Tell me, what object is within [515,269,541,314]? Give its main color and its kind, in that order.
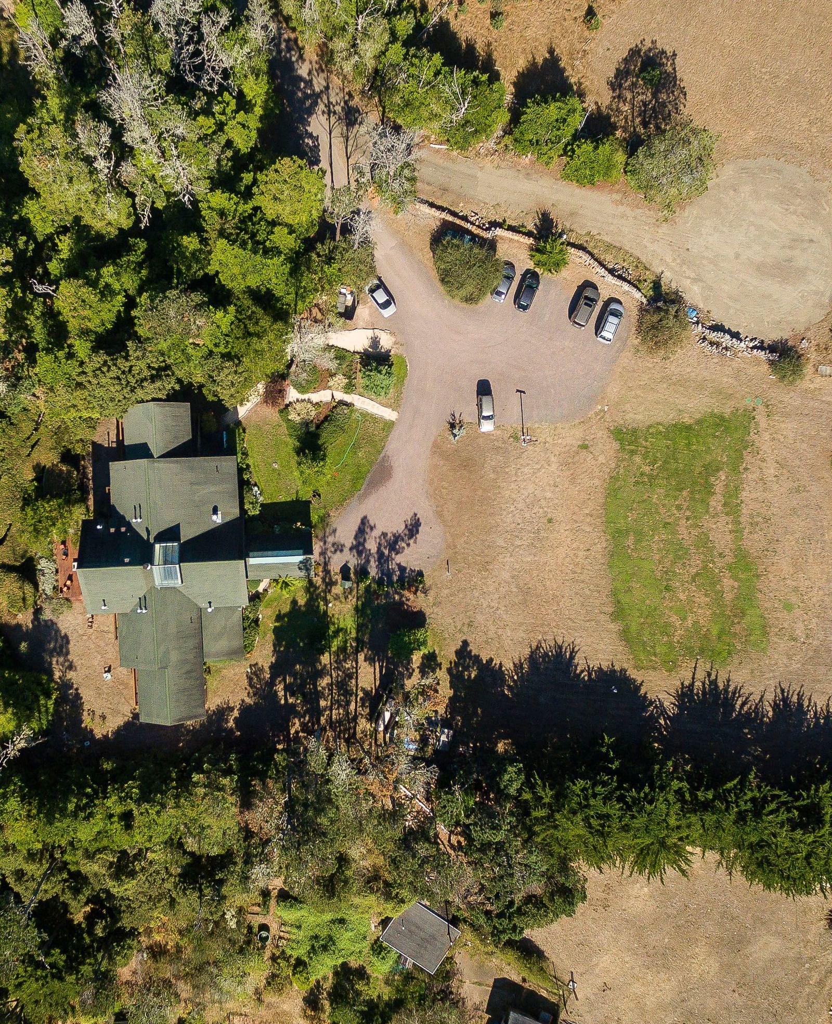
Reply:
black car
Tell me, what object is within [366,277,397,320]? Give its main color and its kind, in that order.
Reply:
white car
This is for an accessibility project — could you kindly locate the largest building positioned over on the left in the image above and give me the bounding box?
[72,402,315,725]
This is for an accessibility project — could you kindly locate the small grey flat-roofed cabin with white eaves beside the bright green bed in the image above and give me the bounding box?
[381,897,461,974]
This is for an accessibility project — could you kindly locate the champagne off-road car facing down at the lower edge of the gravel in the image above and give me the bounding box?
[475,393,496,435]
